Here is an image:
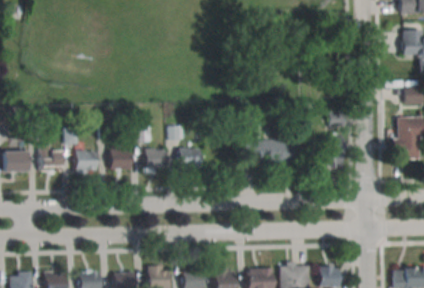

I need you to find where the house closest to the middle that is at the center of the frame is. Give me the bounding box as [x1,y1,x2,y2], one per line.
[179,148,204,164]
